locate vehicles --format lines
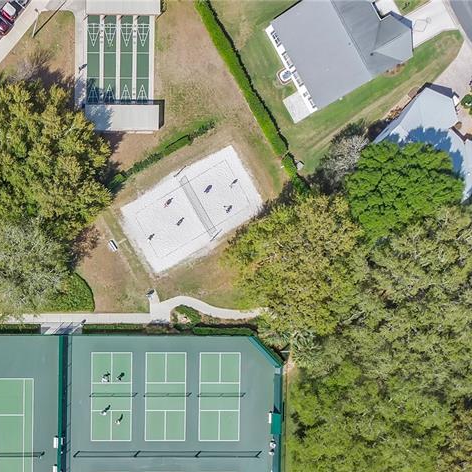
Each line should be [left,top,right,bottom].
[1,5,17,24]
[0,17,10,36]
[14,0,29,13]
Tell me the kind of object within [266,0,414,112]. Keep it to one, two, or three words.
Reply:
house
